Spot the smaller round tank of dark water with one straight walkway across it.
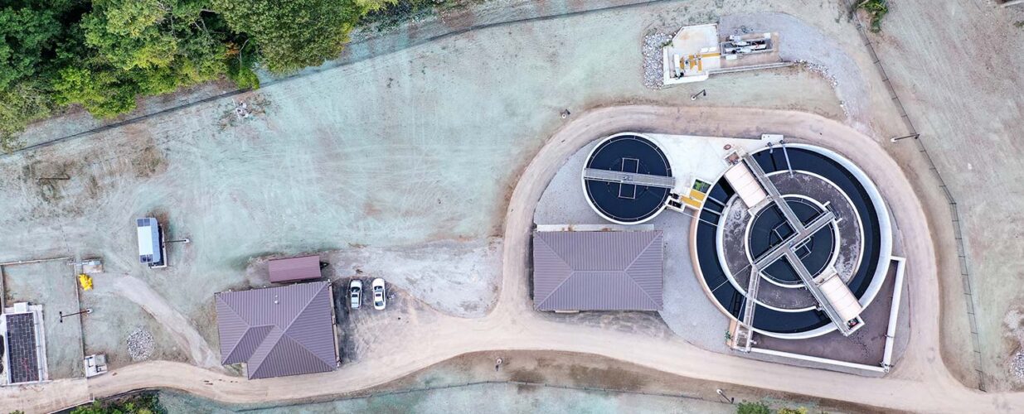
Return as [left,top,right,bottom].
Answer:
[581,132,677,224]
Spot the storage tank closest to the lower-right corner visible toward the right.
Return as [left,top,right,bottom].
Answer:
[682,139,891,351]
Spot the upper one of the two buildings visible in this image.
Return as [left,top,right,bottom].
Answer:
[532,230,664,312]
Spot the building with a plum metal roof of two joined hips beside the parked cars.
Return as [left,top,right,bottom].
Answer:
[214,278,343,381]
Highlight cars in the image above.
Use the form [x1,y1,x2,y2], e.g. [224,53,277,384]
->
[371,279,385,310]
[348,280,362,310]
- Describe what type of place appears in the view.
industrial area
